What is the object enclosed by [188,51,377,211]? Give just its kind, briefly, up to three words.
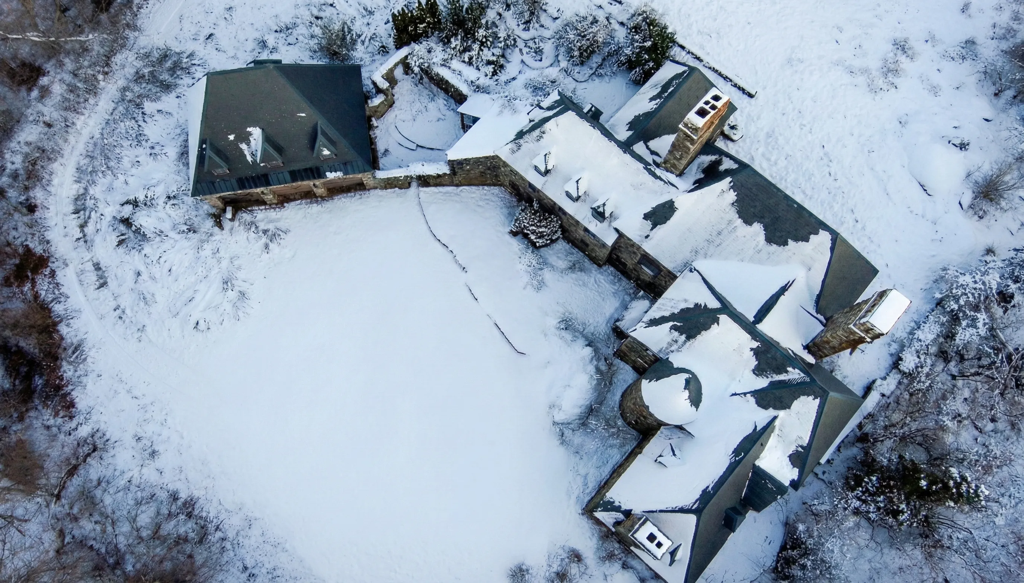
building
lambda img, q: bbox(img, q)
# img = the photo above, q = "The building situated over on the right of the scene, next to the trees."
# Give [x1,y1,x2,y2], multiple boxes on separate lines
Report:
[447,59,912,583]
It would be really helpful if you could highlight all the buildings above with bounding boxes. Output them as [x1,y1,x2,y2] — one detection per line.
[188,51,377,211]
[447,59,912,583]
